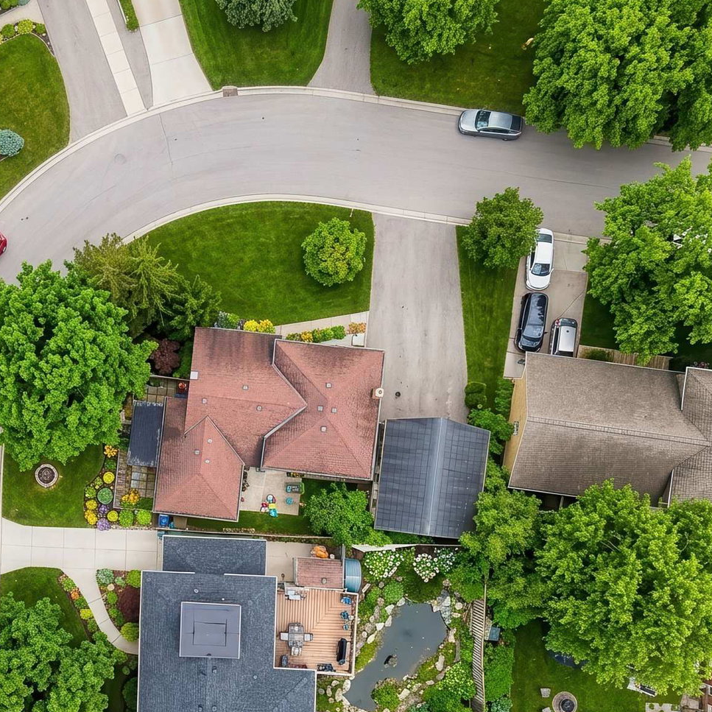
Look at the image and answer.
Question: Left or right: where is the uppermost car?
right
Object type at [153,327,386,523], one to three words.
house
